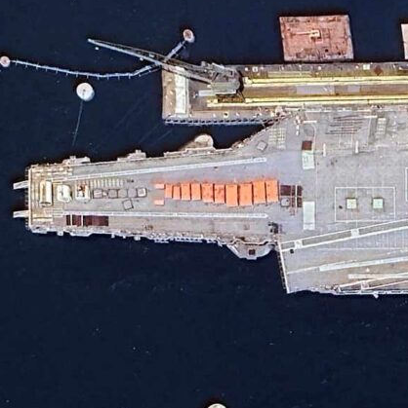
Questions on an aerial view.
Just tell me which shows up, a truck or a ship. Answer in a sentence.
Visible in the photo is a ship.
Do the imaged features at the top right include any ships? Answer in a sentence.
Yes, at the top right there is a ship.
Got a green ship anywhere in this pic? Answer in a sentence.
No, the picture doesn't show any green ship.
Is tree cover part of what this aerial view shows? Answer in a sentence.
No, no tree cover is visible.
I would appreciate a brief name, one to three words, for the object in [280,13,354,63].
ship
